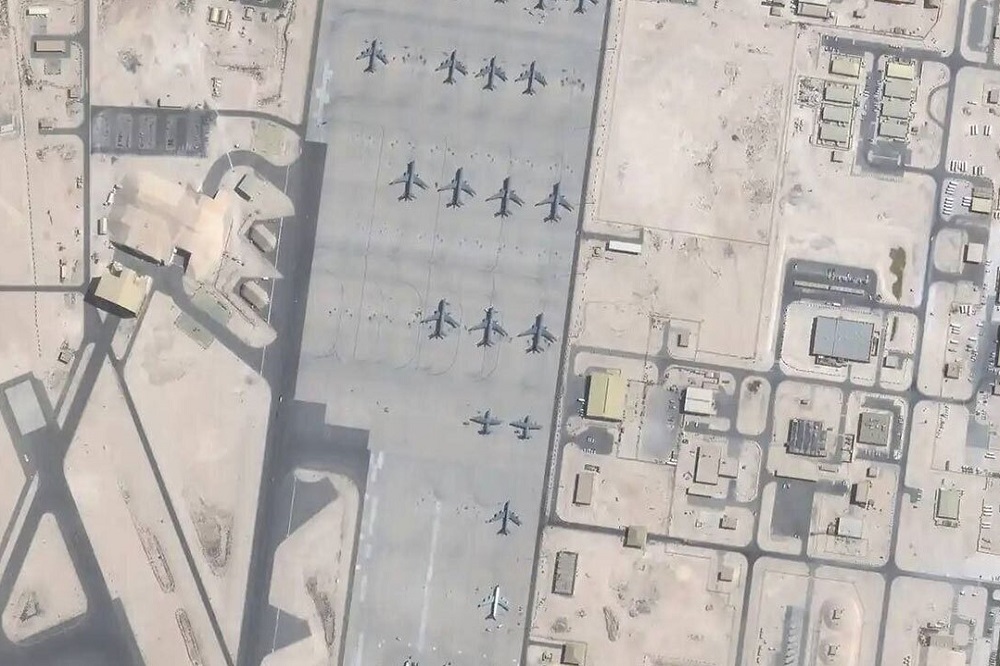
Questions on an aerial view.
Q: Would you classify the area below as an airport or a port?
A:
airport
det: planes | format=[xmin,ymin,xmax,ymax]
[512,416,541,439]
[481,585,512,619]
[521,312,560,352]
[492,500,522,534]
[518,60,549,93]
[539,180,576,220]
[438,48,470,82]
[474,410,503,434]
[479,55,509,88]
[538,0,549,8]
[489,175,527,215]
[441,165,479,205]
[423,297,461,337]
[472,306,510,346]
[394,158,432,198]
[359,38,391,71]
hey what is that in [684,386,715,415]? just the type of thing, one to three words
building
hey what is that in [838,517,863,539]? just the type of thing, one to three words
building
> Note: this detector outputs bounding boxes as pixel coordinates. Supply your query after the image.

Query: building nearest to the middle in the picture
[585,371,626,419]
